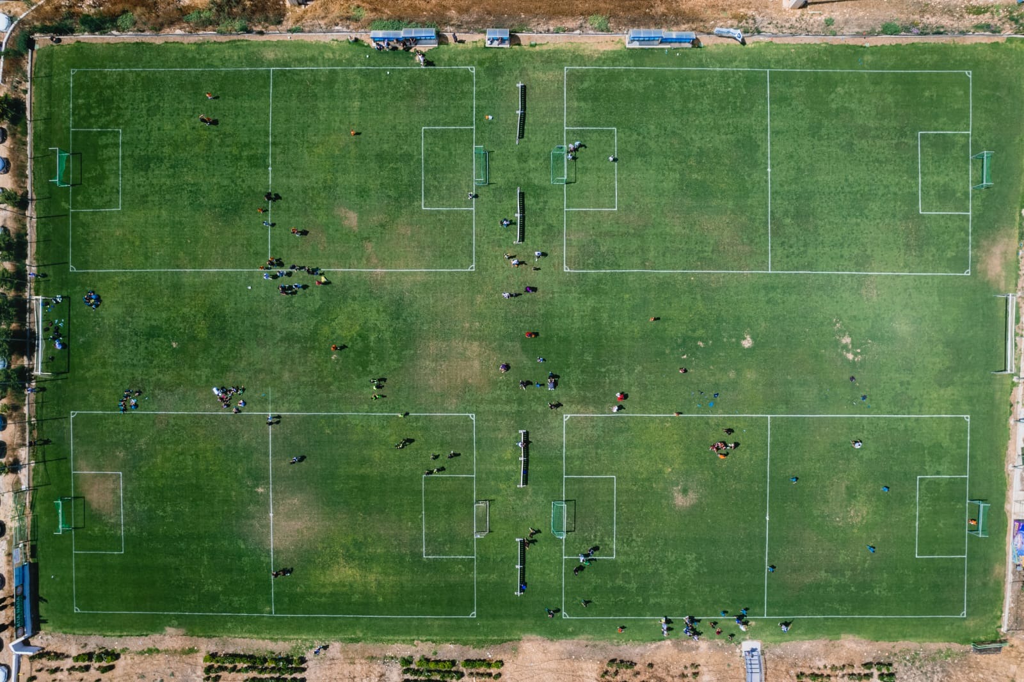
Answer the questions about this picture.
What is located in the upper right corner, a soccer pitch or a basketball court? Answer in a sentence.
Looking in the upper right corner, you will find a soccer pitch.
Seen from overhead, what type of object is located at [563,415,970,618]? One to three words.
soccer field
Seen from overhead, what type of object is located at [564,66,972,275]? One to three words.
soccer field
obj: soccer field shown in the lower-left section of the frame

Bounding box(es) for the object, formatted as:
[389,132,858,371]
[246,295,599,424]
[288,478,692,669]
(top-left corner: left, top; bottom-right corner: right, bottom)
[72,395,475,618]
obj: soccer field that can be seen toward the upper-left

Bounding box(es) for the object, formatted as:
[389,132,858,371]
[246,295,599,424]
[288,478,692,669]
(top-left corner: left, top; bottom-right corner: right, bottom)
[69,67,475,270]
